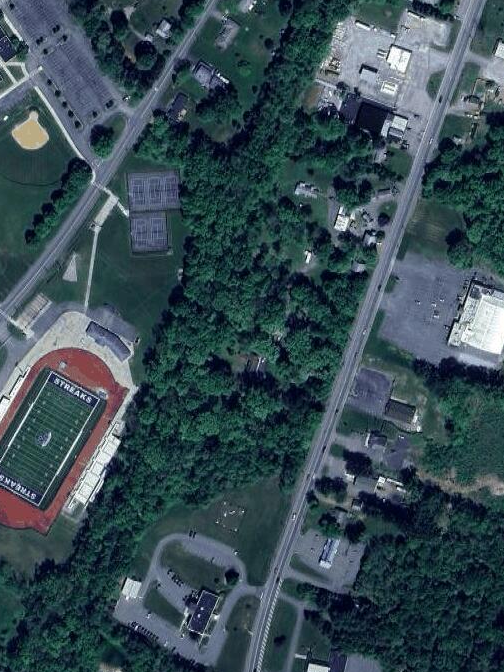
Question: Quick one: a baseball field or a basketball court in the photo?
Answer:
baseball field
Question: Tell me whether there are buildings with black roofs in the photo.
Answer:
Yes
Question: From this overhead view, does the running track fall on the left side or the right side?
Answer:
left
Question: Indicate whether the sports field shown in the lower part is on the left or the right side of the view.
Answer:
left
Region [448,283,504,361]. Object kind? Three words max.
building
